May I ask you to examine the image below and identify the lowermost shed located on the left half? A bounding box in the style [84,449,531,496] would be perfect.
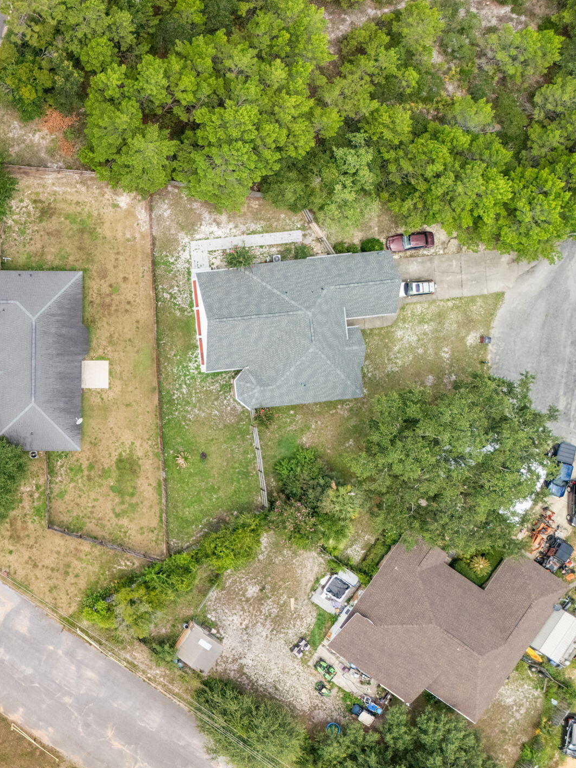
[175,619,223,675]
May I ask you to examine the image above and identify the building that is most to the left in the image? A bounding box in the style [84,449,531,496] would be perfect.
[0,270,89,451]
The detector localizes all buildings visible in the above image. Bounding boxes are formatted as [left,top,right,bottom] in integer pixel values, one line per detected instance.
[187,252,401,411]
[0,270,89,451]
[327,531,568,723]
[175,619,223,675]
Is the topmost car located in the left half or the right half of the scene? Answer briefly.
right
